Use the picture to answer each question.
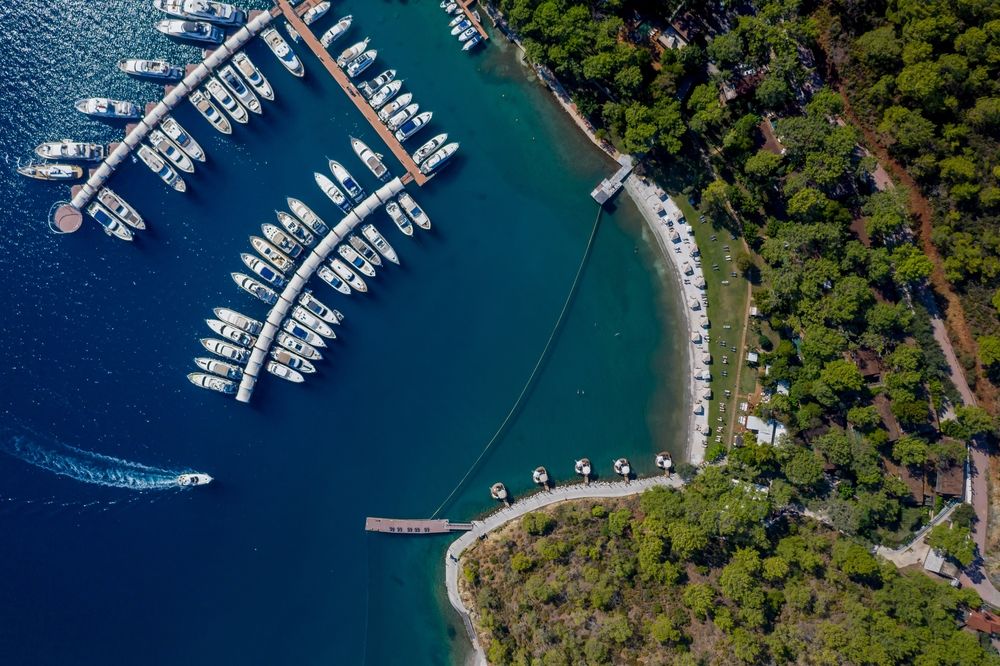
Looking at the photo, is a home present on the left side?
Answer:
No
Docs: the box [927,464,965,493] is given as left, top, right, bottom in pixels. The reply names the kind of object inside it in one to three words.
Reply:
house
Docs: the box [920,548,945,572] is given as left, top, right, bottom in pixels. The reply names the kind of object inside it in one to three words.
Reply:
house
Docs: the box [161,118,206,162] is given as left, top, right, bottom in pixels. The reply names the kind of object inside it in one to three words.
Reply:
boat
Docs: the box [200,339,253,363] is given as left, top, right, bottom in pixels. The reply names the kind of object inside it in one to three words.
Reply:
boat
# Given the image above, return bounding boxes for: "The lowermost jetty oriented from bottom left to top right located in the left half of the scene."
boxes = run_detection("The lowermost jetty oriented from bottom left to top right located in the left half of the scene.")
[237,177,406,401]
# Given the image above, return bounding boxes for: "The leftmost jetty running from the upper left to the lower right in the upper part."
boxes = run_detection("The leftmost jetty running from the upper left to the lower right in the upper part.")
[268,0,437,185]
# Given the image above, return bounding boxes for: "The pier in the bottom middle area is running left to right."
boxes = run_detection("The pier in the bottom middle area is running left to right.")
[363,516,473,533]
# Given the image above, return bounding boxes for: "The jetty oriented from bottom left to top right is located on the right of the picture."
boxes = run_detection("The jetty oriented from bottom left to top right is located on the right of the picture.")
[590,154,634,206]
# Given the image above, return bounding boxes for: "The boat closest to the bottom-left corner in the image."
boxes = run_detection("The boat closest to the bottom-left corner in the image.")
[177,472,214,485]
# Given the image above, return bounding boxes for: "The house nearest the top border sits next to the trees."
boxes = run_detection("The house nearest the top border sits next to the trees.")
[656,26,687,50]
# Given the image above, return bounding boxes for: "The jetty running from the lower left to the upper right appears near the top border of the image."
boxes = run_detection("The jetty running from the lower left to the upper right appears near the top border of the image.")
[48,10,275,234]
